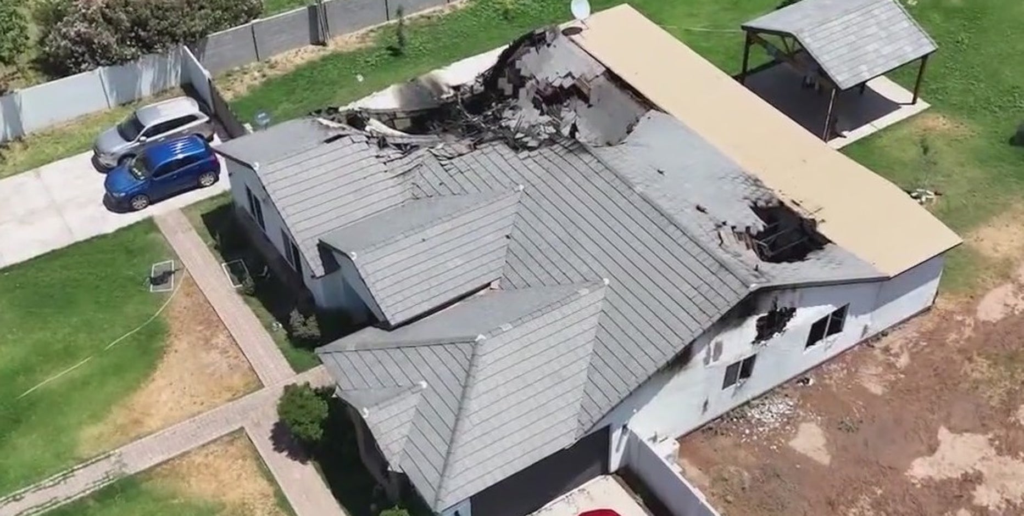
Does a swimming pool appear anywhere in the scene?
No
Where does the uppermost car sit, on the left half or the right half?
left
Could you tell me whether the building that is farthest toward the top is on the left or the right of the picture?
right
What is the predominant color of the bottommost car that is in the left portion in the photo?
blue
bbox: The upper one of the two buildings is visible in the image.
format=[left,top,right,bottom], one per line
[730,0,943,141]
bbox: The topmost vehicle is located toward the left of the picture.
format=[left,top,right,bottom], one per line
[87,89,217,170]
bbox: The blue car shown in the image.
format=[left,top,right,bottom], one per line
[100,132,222,209]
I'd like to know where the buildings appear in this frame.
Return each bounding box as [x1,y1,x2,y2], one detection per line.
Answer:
[215,7,967,516]
[730,0,943,141]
